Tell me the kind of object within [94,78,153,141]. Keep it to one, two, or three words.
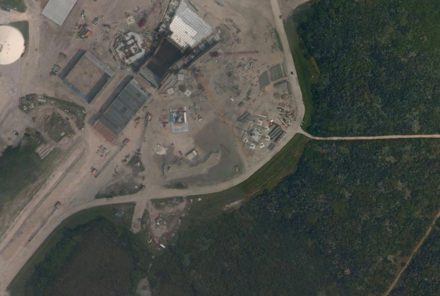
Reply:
building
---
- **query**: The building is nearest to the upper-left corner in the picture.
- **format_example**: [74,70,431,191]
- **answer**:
[63,50,115,103]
